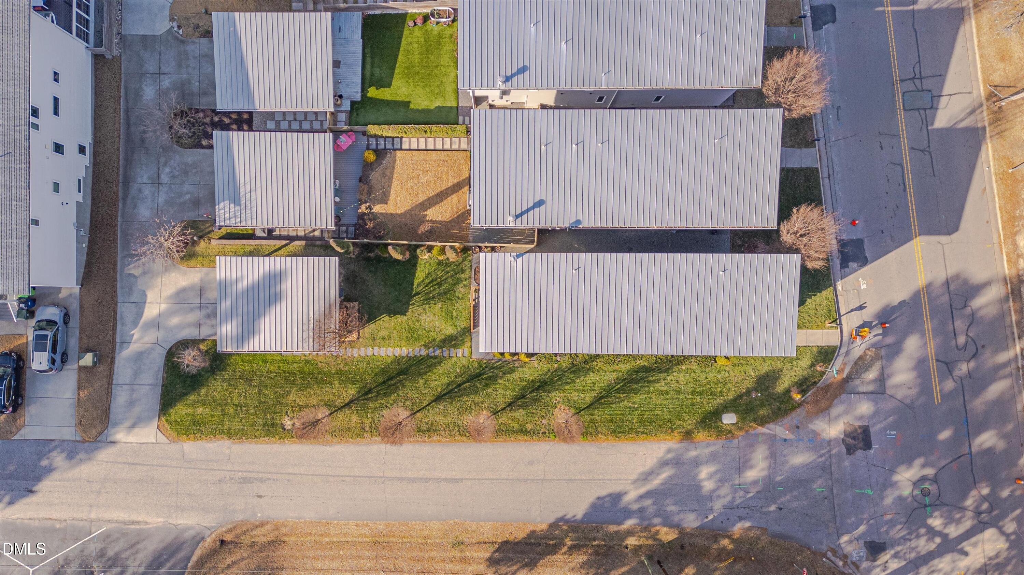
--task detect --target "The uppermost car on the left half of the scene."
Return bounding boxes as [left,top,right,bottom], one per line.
[27,307,71,376]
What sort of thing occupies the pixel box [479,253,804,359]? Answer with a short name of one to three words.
house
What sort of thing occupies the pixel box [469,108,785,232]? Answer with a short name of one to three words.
house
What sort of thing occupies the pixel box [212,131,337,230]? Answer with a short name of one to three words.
building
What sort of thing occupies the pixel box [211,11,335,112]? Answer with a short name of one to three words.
building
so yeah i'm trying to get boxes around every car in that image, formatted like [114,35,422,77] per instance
[0,351,22,422]
[27,307,71,376]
